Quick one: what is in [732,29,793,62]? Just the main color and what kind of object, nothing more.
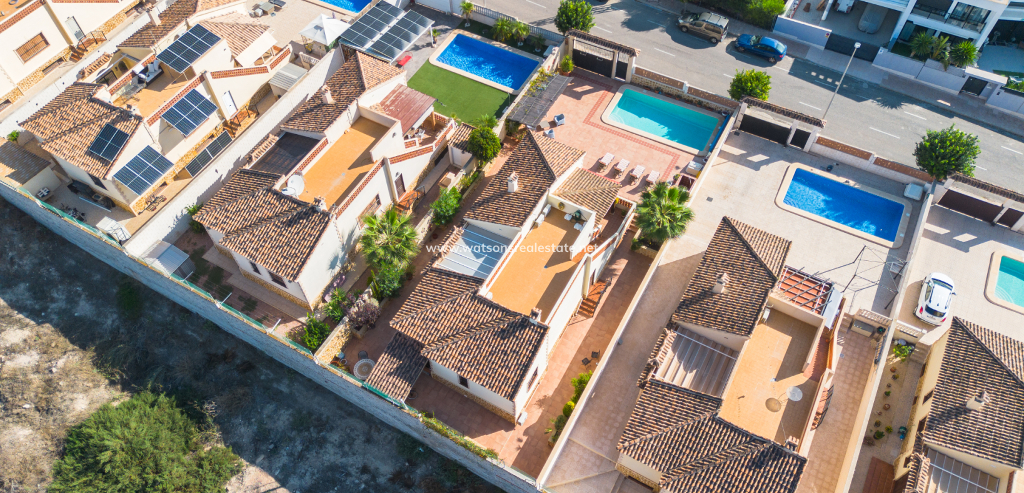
blue car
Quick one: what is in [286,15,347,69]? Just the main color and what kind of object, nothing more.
white gazebo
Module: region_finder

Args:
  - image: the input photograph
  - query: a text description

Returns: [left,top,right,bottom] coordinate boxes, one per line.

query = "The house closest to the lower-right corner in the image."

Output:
[894,315,1024,493]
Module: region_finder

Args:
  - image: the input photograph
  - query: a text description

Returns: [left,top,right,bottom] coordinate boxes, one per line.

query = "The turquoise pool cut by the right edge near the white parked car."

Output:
[984,249,1024,313]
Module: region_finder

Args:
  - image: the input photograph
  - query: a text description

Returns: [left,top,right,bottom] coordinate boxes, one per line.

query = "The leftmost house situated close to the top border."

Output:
[0,0,150,114]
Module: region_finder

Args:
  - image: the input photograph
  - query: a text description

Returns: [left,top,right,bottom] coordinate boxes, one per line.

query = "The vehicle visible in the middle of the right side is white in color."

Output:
[919,268,964,330]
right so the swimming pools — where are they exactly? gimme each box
[600,83,726,158]
[427,29,540,93]
[984,249,1024,313]
[773,161,913,249]
[309,0,375,18]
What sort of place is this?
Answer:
residential area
